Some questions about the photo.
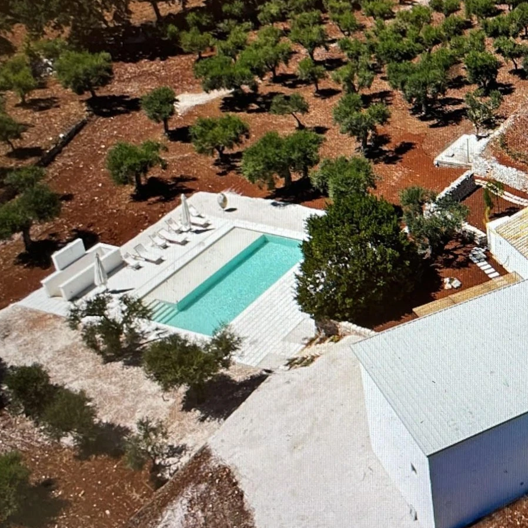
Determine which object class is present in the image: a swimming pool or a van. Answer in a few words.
swimming pool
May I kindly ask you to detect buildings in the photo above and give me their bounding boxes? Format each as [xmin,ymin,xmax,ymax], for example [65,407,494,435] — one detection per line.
[486,199,528,279]
[340,282,528,528]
